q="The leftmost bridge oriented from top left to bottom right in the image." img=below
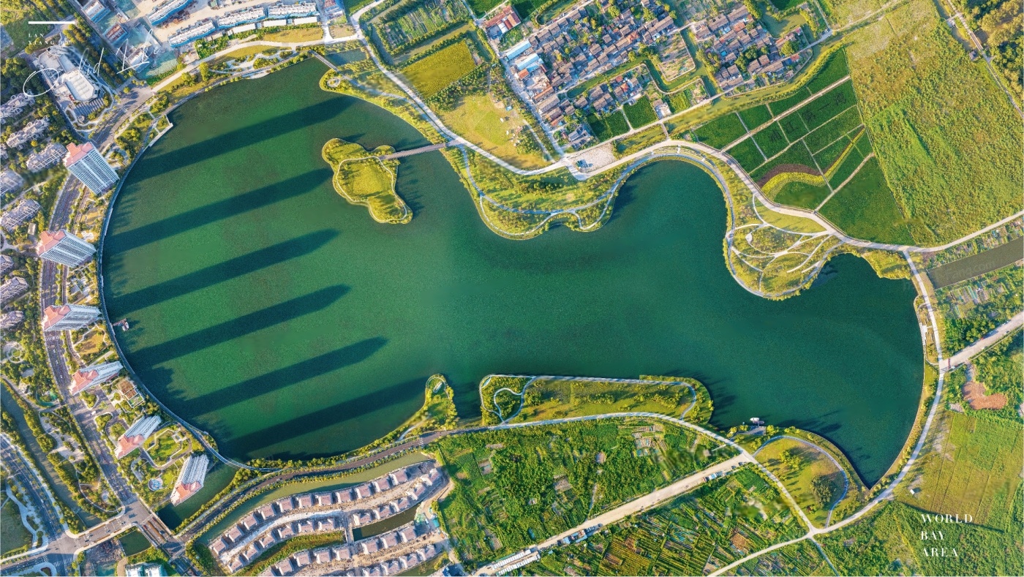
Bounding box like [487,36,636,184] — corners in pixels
[140,509,183,553]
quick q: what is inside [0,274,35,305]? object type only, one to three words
building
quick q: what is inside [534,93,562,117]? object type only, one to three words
house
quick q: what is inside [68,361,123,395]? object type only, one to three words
building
